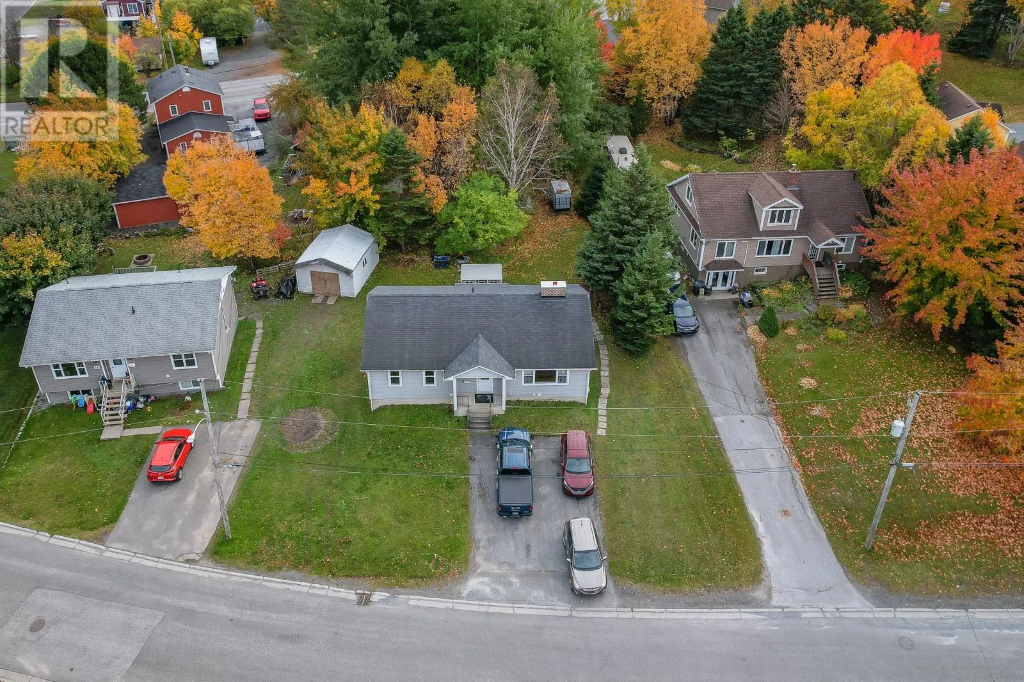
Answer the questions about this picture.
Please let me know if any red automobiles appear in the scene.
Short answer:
Yes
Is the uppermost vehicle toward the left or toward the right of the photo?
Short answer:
left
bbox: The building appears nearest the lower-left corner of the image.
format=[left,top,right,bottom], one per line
[16,266,243,425]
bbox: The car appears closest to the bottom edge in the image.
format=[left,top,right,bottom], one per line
[562,513,608,598]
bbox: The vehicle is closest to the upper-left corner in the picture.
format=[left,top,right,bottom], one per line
[198,41,222,74]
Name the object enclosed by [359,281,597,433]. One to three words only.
house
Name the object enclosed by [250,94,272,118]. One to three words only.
truck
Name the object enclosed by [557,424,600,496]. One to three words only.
car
